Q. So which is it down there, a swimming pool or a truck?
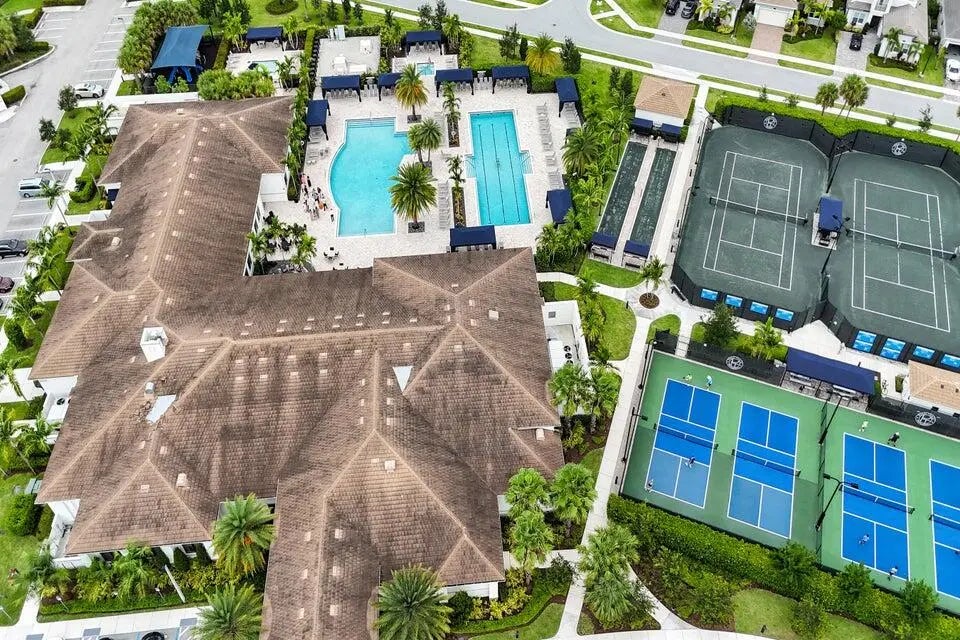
swimming pool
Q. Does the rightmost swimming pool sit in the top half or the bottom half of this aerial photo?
top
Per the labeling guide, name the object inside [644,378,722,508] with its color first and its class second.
blue sports court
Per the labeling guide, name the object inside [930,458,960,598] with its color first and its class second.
blue sports court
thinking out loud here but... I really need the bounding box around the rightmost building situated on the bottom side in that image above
[900,359,960,424]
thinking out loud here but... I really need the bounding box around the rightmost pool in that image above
[463,110,534,226]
